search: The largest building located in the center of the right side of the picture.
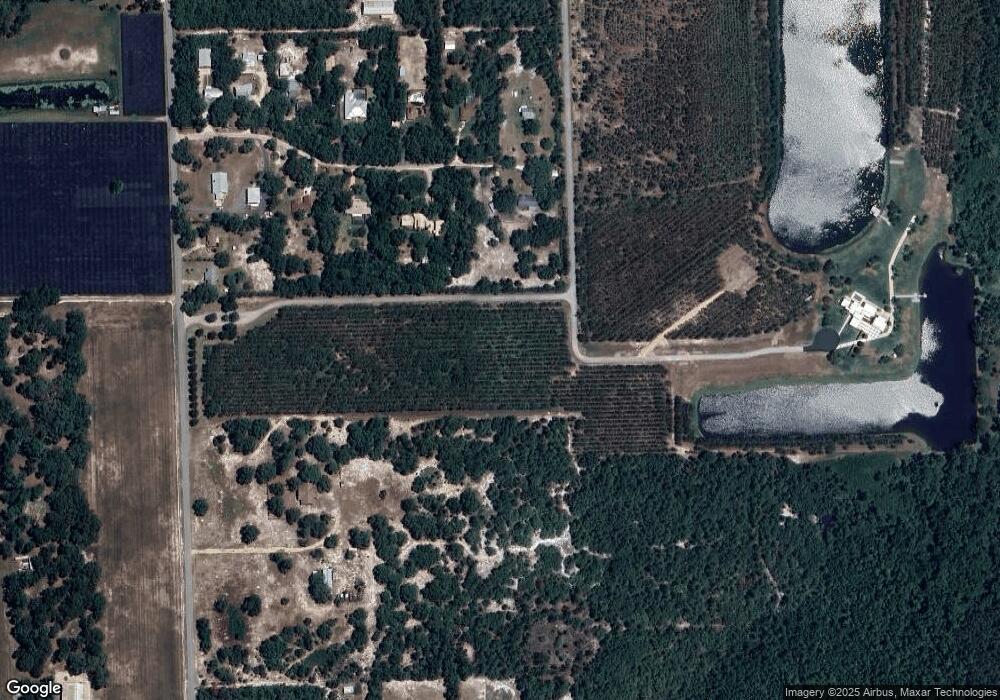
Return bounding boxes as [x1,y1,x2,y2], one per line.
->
[837,291,893,338]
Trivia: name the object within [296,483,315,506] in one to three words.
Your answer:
house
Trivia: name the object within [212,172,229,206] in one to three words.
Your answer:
house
